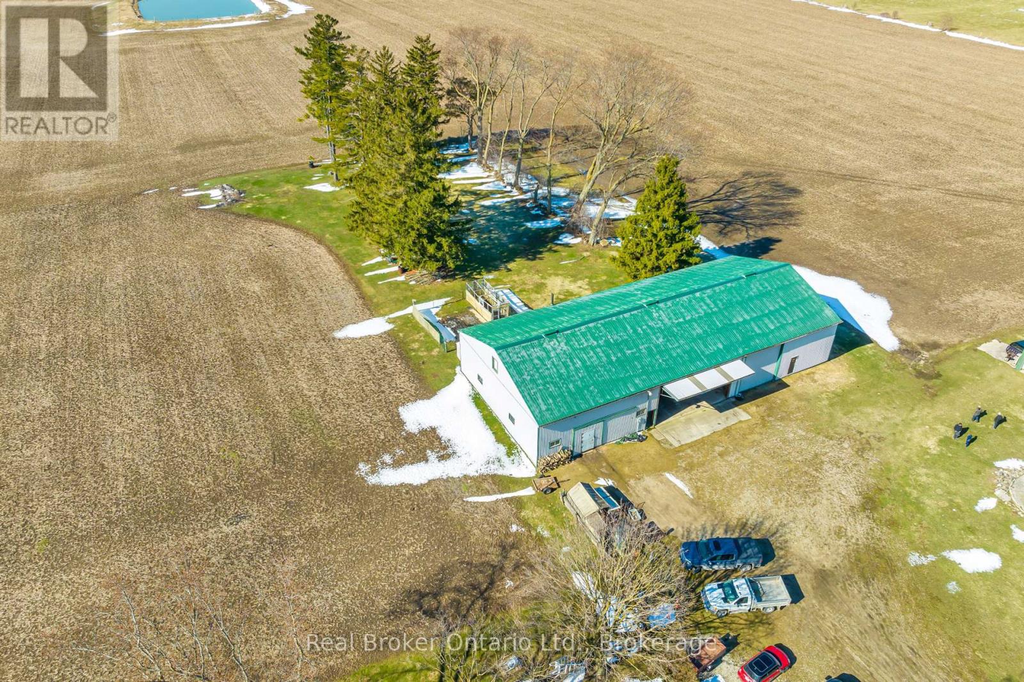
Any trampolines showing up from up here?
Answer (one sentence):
No, the scene contains no trampoline.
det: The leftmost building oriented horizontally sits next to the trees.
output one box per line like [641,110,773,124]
[457,254,845,470]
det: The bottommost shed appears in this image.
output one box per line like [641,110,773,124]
[558,481,628,560]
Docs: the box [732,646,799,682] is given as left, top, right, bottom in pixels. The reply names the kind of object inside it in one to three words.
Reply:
car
